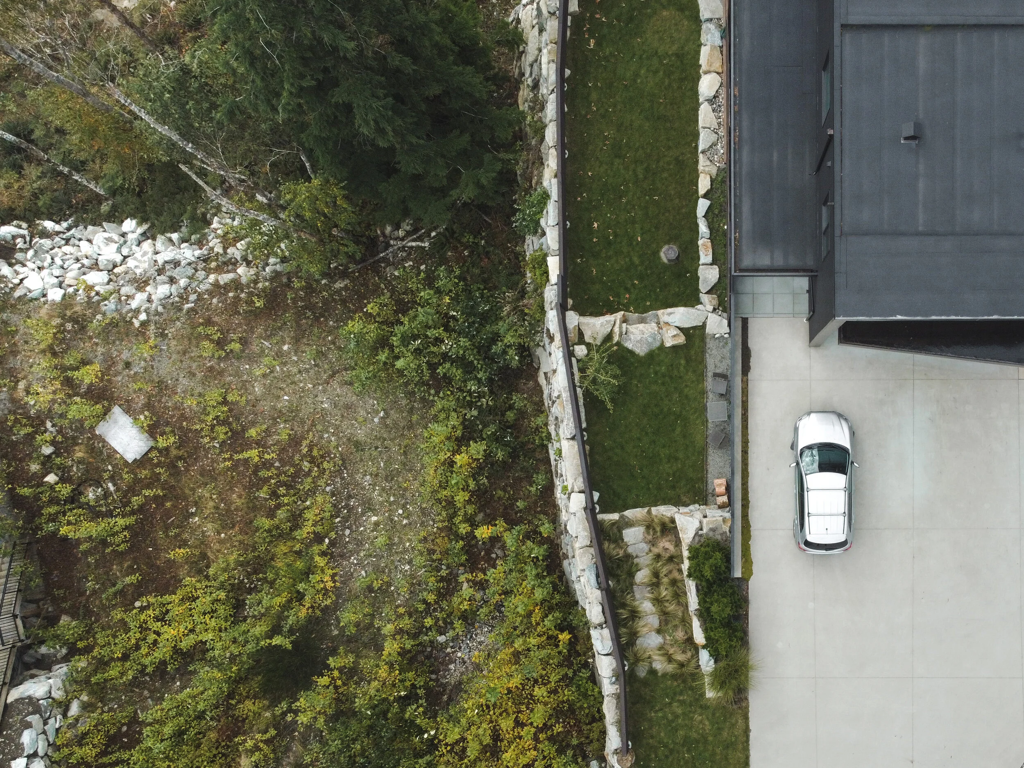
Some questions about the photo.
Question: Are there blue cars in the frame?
No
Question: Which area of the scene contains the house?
top right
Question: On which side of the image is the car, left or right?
right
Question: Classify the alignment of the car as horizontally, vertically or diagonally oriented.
vertically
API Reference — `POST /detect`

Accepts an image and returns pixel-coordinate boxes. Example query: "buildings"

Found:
[724,0,1024,366]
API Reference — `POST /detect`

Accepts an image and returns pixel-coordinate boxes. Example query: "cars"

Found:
[790,411,860,555]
